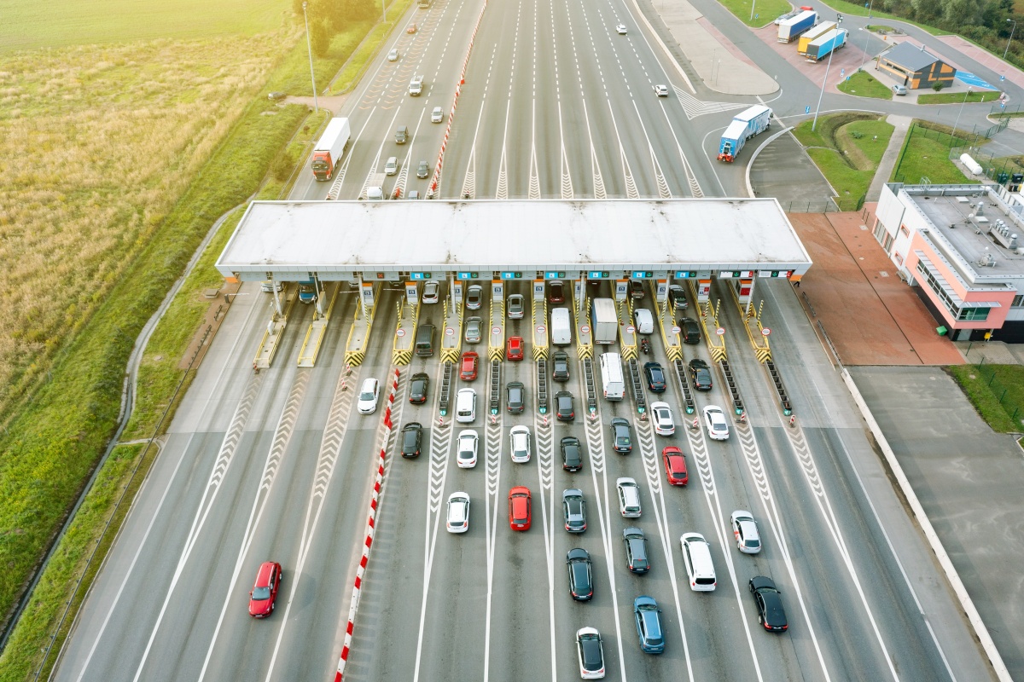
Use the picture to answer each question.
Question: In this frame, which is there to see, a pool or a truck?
truck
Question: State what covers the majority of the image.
paved ground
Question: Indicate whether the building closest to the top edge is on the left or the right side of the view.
right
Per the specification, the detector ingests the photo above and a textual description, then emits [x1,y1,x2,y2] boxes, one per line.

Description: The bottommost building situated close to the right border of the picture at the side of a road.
[871,174,1024,339]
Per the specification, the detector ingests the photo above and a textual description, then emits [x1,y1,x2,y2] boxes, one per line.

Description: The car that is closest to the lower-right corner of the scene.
[754,579,785,633]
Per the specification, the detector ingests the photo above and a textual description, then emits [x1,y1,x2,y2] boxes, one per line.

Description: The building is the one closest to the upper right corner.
[873,41,959,88]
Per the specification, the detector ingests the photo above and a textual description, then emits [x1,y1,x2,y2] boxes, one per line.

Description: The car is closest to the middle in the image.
[506,335,525,361]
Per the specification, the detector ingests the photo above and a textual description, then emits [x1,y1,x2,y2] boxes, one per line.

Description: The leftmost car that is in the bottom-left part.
[249,563,283,619]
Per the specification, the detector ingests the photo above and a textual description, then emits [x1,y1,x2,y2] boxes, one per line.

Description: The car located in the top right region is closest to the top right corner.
[893,82,909,94]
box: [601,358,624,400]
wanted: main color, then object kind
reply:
white vehicle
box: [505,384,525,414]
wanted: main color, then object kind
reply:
gray car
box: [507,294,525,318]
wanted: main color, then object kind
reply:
gray car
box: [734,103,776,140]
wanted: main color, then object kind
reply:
white truck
